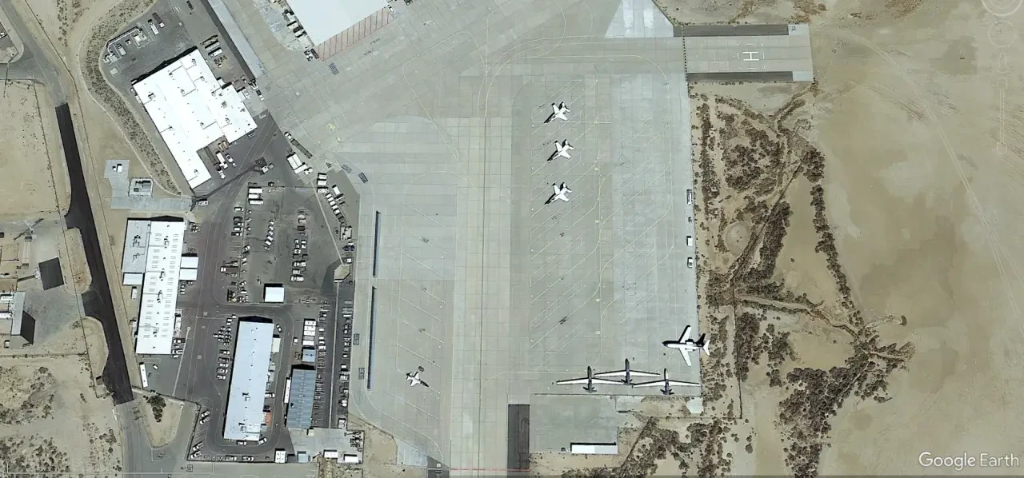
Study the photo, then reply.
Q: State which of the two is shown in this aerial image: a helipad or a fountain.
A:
helipad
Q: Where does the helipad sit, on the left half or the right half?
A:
right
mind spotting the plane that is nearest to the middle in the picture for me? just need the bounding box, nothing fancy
[545,179,574,203]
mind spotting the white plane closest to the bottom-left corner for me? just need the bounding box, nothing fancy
[406,373,428,387]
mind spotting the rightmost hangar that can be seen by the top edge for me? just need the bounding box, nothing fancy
[286,0,387,45]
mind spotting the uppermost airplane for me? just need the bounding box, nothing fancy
[545,98,573,122]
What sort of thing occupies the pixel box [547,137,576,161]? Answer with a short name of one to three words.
airplane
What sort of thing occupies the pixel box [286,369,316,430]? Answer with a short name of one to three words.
building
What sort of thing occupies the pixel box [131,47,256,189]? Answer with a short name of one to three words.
building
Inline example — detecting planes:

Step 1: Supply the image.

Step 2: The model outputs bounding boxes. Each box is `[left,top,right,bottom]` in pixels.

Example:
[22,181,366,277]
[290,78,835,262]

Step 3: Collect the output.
[556,367,623,392]
[547,137,576,161]
[406,373,428,387]
[594,359,661,384]
[664,328,713,368]
[633,369,700,394]
[545,179,574,203]
[545,98,573,122]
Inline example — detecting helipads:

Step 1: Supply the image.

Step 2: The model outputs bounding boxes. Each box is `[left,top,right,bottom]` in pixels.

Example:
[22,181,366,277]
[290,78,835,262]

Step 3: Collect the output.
[674,23,814,82]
